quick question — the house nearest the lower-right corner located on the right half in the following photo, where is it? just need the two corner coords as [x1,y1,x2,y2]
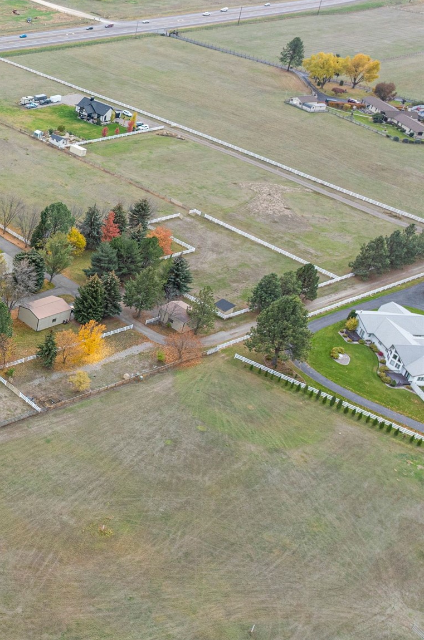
[345,303,424,404]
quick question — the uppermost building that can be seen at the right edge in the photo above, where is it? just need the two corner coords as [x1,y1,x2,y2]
[364,97,424,139]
